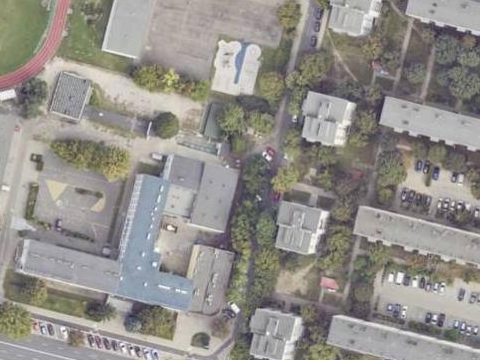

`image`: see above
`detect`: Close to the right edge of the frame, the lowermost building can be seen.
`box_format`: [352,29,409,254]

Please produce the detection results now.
[326,312,480,360]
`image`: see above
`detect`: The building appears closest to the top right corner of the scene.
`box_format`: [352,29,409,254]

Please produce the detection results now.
[403,0,480,36]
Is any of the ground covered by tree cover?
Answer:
Yes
